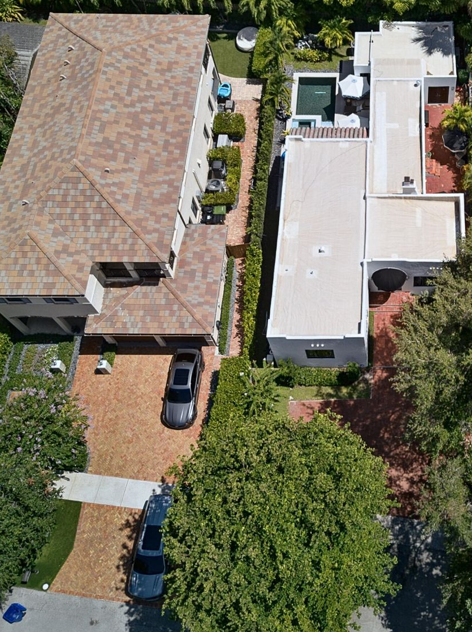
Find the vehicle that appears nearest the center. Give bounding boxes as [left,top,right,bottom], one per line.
[159,351,206,431]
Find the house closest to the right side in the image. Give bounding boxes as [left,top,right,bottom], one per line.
[267,25,467,366]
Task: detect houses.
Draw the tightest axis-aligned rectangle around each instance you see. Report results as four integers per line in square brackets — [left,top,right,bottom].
[267,25,467,366]
[0,12,233,346]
